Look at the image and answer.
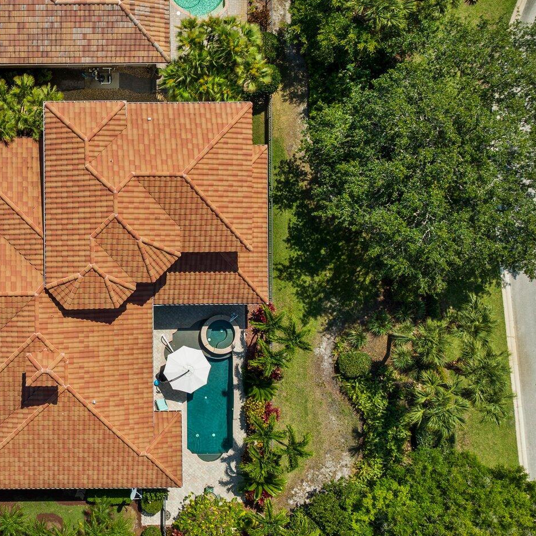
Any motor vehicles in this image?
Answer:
No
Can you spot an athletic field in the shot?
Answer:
No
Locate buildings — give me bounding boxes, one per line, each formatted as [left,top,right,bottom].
[0,99,270,491]
[0,0,171,73]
